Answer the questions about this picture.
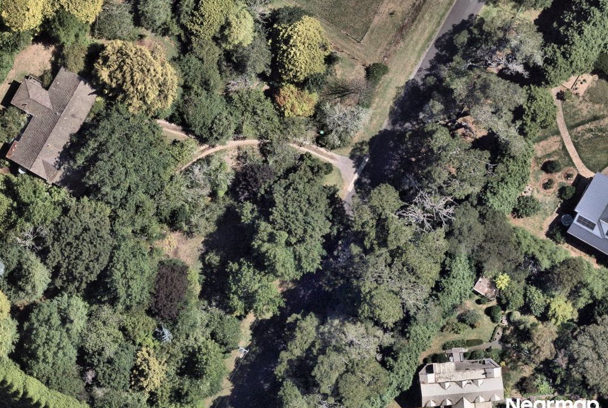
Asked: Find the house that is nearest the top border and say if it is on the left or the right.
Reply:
left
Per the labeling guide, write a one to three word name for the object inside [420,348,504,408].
house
